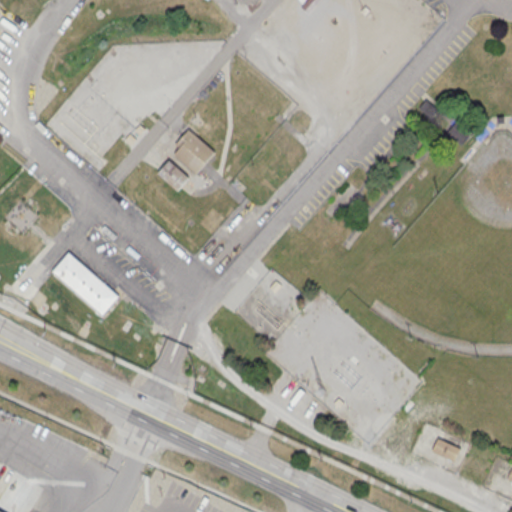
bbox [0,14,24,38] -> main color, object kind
white truck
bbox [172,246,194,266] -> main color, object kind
white vehicle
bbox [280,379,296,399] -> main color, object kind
white vehicle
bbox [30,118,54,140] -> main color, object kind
white truck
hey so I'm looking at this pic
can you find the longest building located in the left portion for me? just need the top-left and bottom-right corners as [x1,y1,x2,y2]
[52,252,122,318]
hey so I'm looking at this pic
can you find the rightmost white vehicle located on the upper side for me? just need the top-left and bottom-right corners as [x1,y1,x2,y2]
[336,163,350,178]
